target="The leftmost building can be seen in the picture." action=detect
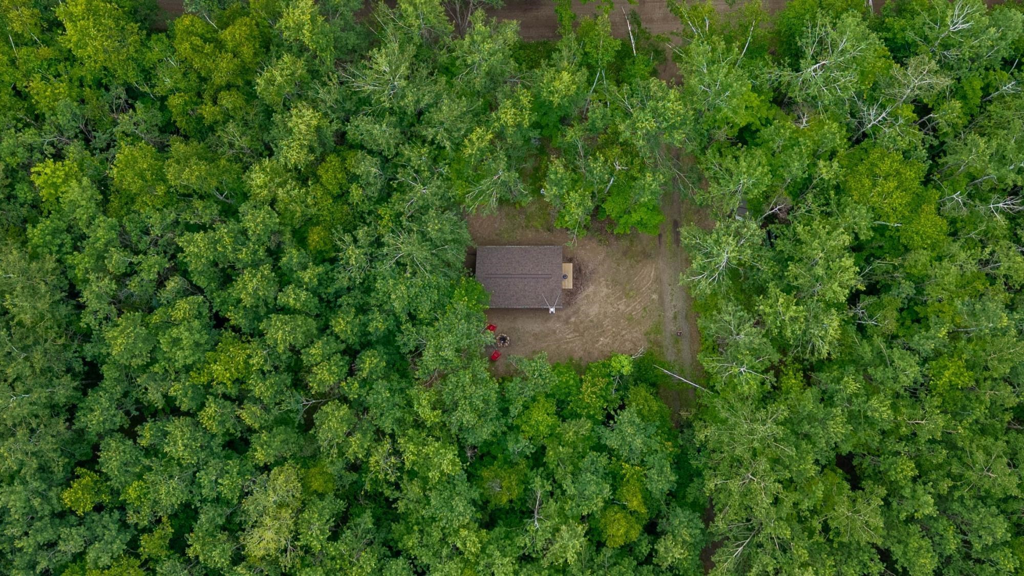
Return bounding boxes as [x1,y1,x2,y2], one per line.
[476,245,563,308]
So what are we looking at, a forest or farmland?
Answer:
forest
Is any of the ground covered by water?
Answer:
No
